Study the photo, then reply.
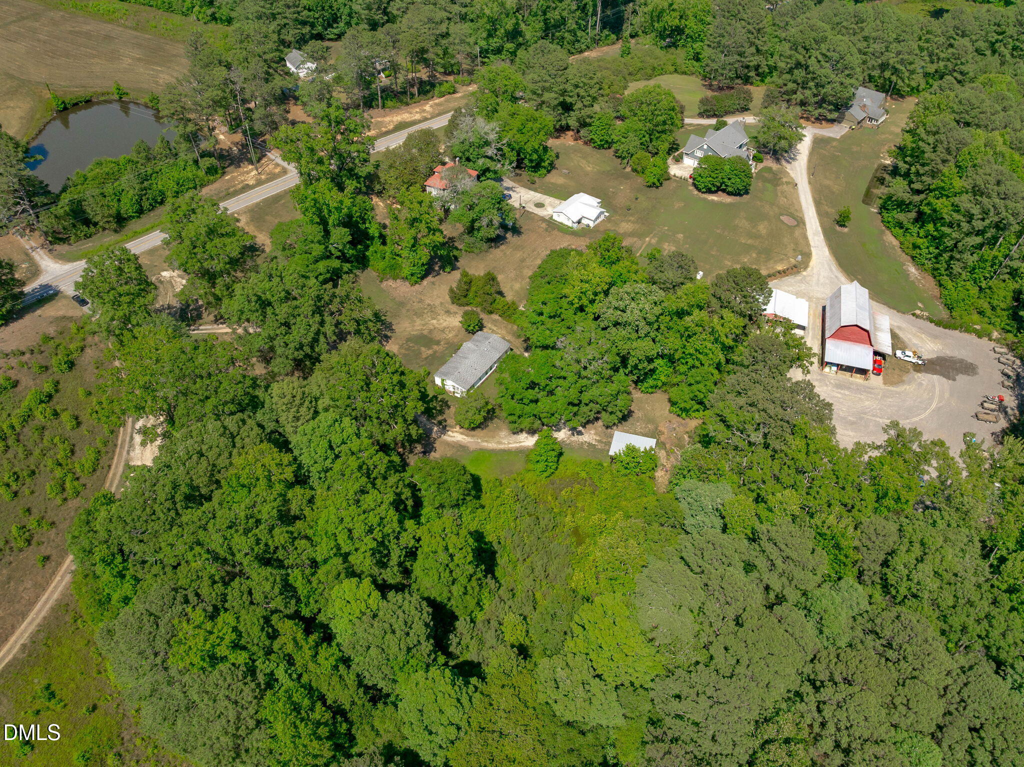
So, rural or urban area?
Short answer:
rural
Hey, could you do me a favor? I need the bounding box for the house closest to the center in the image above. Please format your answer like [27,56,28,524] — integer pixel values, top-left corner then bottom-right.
[434,331,514,398]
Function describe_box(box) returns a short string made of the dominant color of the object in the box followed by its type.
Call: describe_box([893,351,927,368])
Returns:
white vehicle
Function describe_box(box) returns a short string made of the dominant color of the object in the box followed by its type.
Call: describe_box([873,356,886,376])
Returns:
red vehicle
